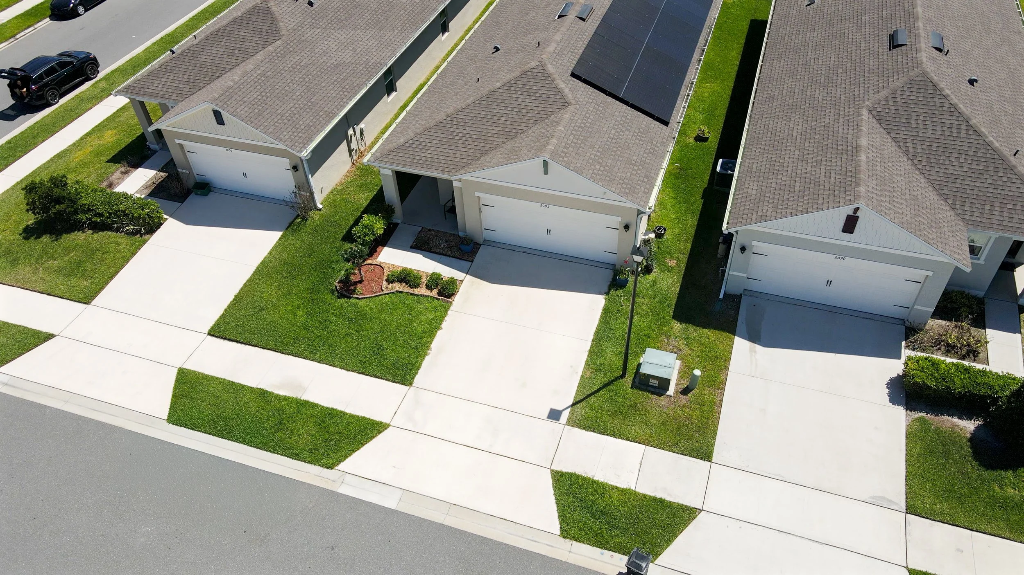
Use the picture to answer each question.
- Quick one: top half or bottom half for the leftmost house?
top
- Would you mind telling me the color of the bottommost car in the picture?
black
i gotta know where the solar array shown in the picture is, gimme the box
[573,0,715,131]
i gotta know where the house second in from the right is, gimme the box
[359,0,719,277]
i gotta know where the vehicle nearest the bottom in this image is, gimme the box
[0,46,100,105]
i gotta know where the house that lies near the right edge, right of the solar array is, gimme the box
[718,0,1024,328]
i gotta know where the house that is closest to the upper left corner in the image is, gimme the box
[111,0,475,216]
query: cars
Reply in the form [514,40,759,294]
[0,46,100,105]
[45,0,97,15]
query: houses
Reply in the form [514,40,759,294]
[718,0,1024,328]
[359,0,719,277]
[111,0,475,216]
